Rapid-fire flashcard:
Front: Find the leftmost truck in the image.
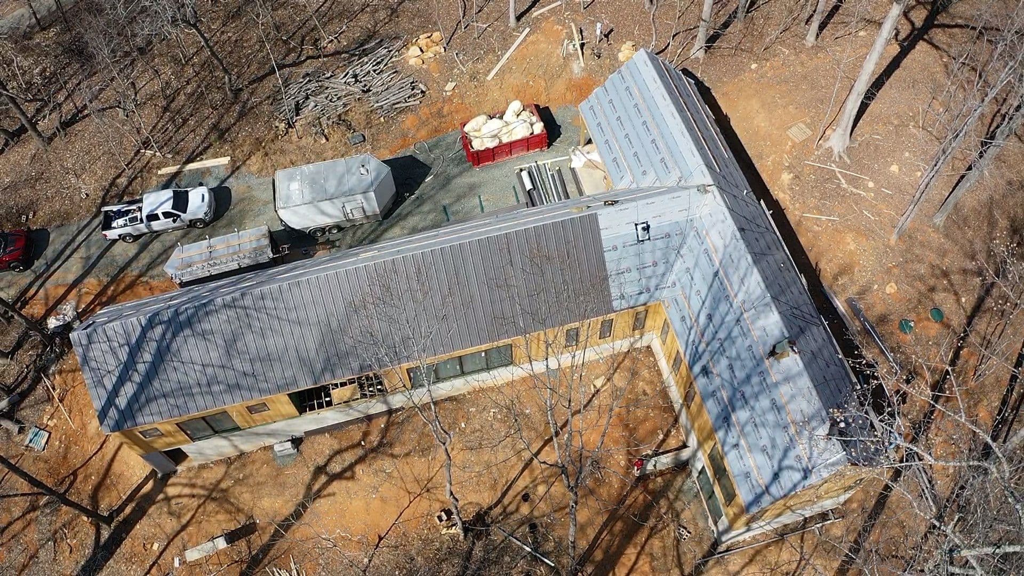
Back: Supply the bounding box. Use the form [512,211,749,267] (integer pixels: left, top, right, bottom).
[0,235,38,278]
